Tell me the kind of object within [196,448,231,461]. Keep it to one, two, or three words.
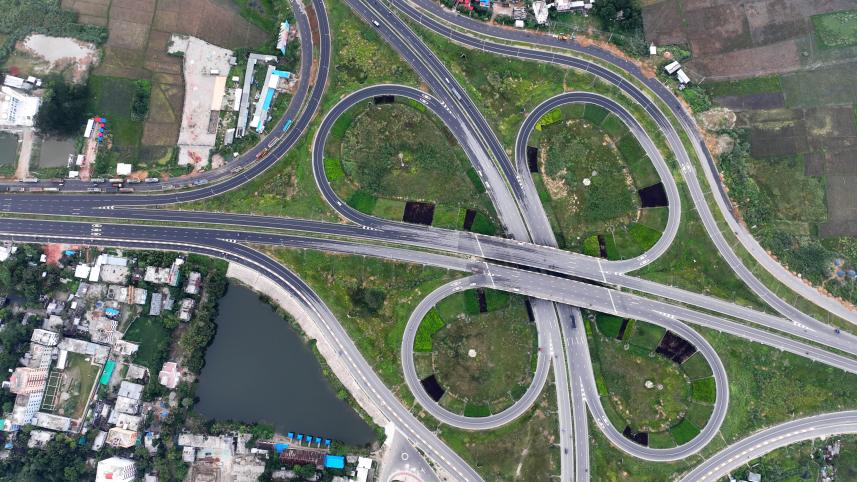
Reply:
shed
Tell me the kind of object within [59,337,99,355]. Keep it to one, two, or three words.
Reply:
building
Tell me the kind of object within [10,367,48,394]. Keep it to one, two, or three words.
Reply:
building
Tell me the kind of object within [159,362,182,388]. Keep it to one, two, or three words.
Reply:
house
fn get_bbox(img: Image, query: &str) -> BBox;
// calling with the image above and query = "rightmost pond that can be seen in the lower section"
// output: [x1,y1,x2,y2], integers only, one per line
[192,284,373,444]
